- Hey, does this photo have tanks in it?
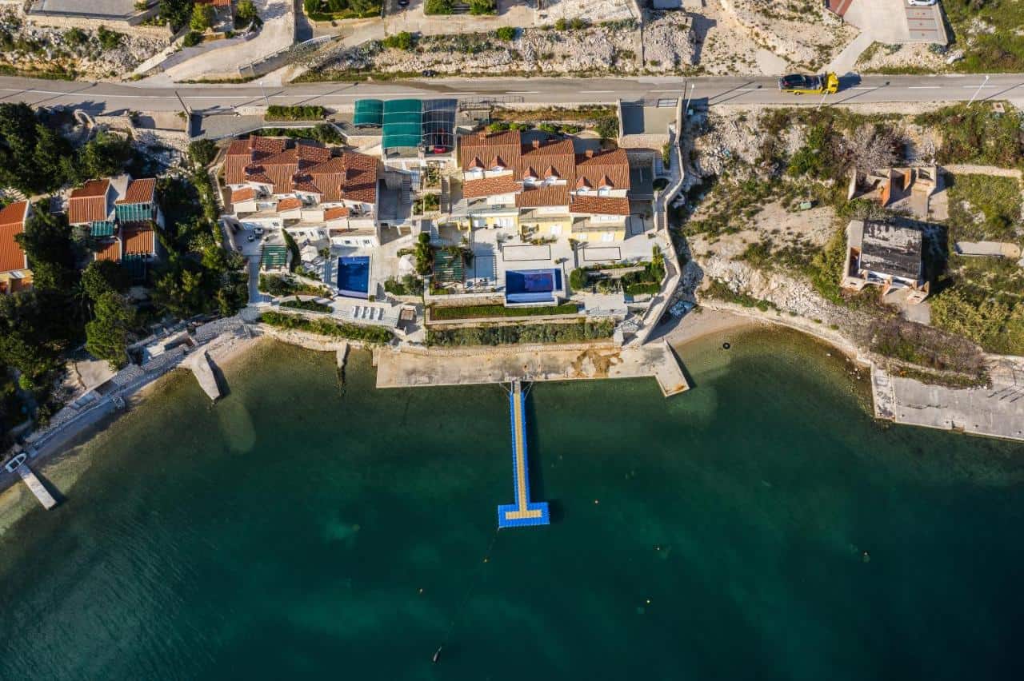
No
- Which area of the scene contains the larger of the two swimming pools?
center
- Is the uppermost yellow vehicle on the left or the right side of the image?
right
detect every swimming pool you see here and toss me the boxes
[503,266,565,311]
[335,253,372,300]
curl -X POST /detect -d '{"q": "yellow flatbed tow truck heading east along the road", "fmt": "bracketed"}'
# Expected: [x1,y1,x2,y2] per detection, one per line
[780,75,838,95]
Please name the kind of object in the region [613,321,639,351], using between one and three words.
building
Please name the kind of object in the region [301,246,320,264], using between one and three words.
umbrella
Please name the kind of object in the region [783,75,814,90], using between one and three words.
car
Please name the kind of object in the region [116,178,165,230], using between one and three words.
house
